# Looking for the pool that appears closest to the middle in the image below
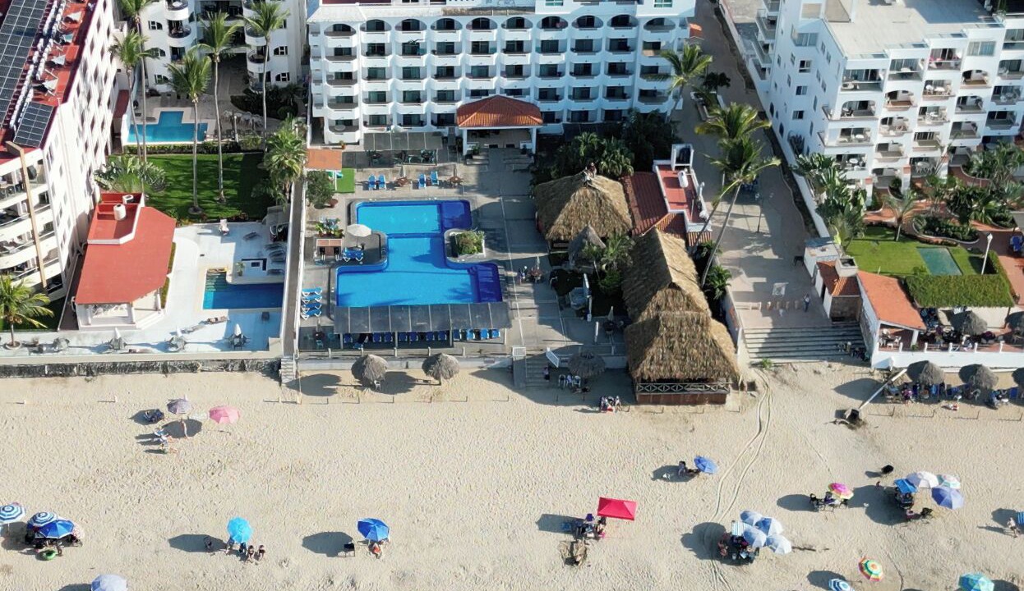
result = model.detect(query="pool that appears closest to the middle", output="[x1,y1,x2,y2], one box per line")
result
[336,200,502,307]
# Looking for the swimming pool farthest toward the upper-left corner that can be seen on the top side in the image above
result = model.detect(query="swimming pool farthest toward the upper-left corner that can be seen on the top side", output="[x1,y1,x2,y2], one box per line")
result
[145,111,207,141]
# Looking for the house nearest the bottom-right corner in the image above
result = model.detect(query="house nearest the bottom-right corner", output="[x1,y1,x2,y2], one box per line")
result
[854,268,927,379]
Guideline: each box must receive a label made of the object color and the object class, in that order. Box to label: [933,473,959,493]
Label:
white umbrella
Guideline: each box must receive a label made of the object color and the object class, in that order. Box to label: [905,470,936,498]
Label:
white umbrella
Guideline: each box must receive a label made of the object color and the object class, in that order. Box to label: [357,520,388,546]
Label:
blue umbrella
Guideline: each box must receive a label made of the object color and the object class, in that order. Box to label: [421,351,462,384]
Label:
gray umbrella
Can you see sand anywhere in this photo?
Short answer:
Yes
